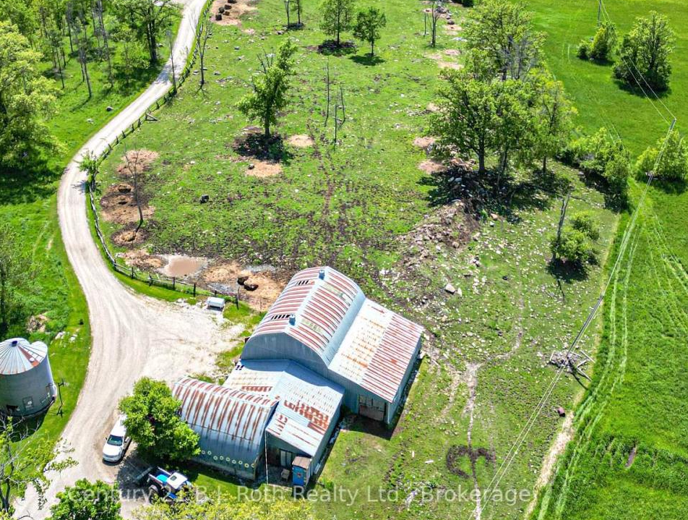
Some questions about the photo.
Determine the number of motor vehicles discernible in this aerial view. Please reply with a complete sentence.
In total, there are 2 motor vehicles in the scene.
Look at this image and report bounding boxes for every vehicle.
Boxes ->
[140,468,198,511]
[104,416,133,457]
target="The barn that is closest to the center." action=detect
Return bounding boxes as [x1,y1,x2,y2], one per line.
[240,265,423,426]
